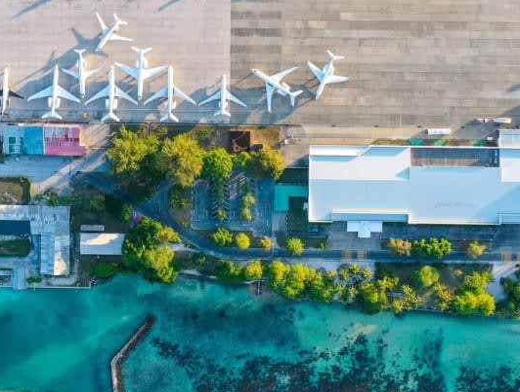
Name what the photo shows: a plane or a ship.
plane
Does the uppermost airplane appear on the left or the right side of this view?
left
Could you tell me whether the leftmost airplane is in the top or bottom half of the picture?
top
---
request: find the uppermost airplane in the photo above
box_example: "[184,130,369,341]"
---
[96,13,132,49]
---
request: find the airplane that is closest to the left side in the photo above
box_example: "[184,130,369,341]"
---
[0,68,23,118]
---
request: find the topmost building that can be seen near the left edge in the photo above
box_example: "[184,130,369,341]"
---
[2,124,86,156]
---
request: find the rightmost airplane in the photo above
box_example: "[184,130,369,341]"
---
[307,55,351,98]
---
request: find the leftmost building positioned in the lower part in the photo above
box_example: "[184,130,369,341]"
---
[0,203,70,275]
